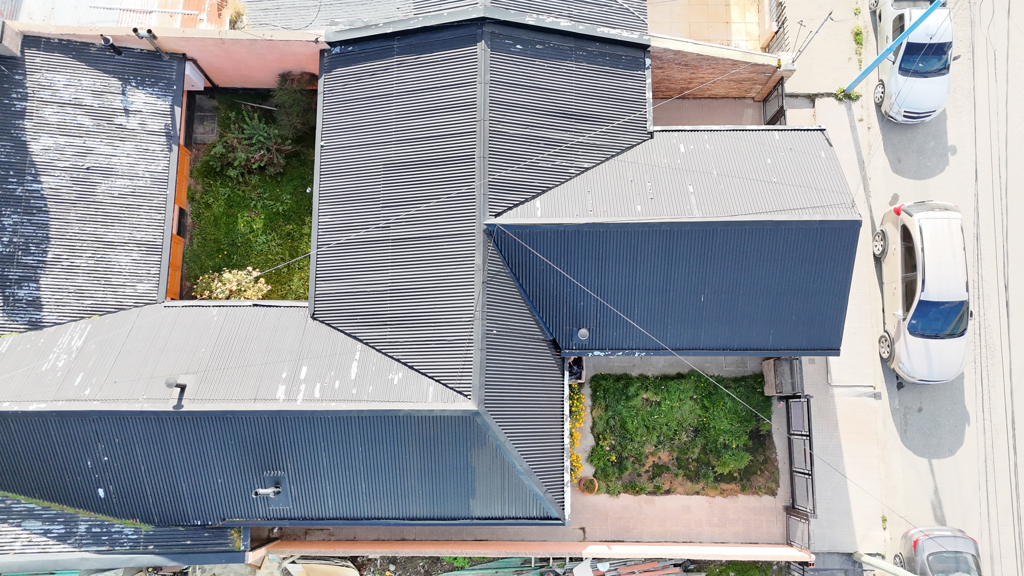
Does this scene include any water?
No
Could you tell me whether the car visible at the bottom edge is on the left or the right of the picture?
right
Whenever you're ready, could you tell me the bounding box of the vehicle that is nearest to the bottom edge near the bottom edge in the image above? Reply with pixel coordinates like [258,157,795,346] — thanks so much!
[891,530,985,576]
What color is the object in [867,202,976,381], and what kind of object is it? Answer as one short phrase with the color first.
white car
